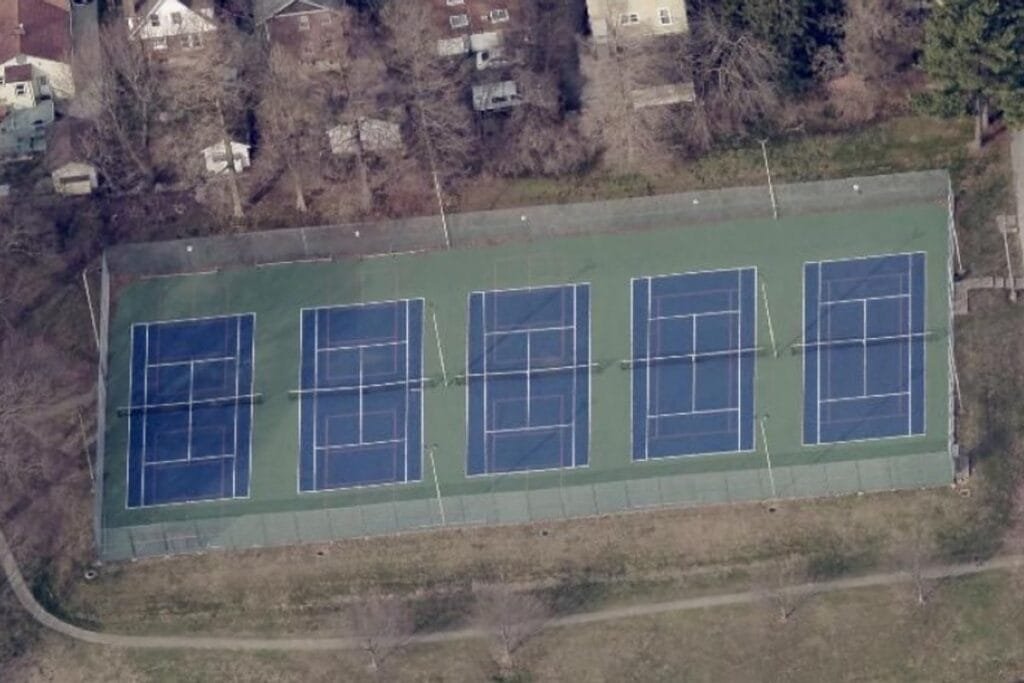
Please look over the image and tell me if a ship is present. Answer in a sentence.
No, I can see no ship in this picture.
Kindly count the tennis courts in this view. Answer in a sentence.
There are 5 tennis courts in the image.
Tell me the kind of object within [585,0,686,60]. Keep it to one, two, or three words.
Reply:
house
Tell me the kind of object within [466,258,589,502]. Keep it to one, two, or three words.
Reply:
tennis court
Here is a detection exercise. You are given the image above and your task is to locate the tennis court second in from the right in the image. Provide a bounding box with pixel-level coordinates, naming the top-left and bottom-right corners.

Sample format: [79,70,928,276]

[633,267,756,460]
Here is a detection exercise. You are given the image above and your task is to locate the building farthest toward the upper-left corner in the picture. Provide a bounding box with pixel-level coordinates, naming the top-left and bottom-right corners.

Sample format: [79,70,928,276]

[0,0,79,115]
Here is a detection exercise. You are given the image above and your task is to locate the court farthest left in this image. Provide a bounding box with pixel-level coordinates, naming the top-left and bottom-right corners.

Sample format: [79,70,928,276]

[126,290,254,533]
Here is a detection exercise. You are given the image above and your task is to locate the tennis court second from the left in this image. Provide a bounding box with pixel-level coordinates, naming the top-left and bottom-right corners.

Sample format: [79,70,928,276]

[298,274,423,518]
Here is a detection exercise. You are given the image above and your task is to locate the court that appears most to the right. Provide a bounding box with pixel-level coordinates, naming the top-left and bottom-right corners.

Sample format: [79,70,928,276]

[801,252,928,445]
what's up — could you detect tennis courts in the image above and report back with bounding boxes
[633,267,756,460]
[466,258,589,502]
[126,290,254,533]
[298,274,423,518]
[801,252,928,445]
